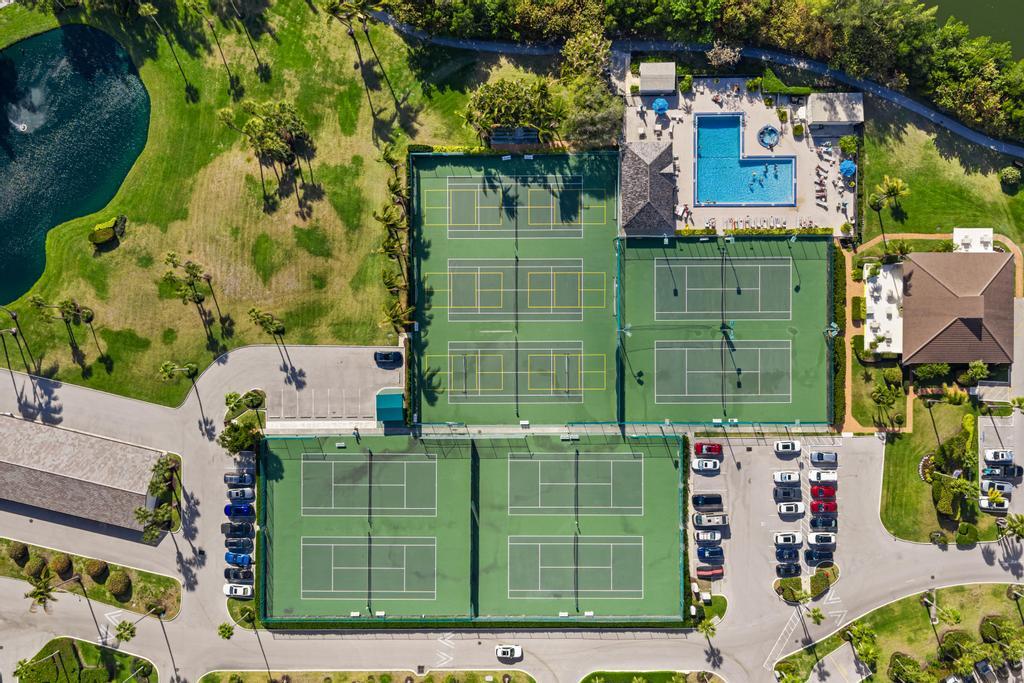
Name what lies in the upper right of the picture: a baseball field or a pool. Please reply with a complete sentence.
The one visible in the upper right of the picture is a pool.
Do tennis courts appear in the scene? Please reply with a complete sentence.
Yes, the image includes a tennis court.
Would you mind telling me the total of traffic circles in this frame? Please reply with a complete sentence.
The picture shows no traffic circles.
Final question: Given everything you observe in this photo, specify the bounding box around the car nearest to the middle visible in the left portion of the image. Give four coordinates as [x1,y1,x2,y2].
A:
[375,351,402,365]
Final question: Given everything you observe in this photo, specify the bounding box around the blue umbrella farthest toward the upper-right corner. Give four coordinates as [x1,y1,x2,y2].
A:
[838,160,855,177]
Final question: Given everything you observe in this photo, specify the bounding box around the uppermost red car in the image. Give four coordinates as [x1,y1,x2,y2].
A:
[694,443,722,457]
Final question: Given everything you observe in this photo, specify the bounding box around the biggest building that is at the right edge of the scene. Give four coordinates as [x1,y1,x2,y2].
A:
[897,252,1014,384]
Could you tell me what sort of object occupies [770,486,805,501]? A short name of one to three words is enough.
vehicle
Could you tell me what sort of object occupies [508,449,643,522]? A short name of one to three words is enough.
tennis court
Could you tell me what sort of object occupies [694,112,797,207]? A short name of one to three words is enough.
swimming pool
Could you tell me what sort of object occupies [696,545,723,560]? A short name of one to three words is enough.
car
